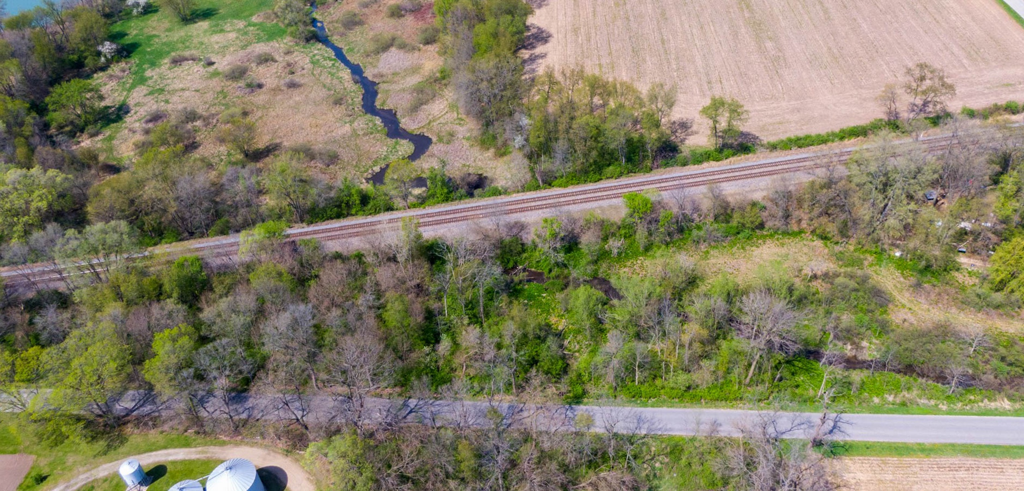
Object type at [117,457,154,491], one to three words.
silo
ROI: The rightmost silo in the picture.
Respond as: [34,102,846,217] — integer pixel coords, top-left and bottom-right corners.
[204,456,267,491]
